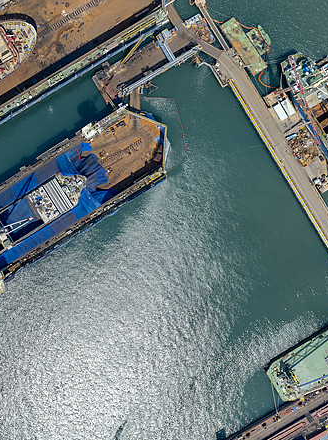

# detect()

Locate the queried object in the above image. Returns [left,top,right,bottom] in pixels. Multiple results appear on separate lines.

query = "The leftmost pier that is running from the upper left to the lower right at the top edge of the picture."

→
[193,0,233,57]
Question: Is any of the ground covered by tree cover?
No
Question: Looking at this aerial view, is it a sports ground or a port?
port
